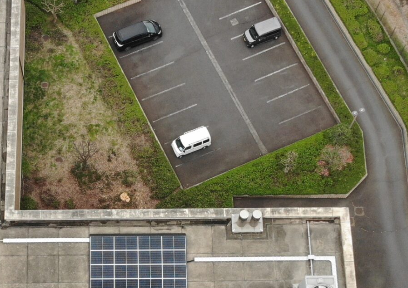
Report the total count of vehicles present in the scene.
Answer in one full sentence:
The photo contains 3 vehicles.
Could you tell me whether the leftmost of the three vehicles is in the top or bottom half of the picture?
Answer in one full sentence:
The leftmost of the three vehicles sits in the top half of the picture.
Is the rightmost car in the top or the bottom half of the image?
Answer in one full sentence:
The rightmost car is in the top half of the image.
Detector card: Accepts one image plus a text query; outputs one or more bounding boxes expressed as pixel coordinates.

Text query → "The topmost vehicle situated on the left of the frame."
[113,22,164,54]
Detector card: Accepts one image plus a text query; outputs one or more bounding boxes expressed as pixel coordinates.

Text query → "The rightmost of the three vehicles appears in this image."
[243,16,283,49]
